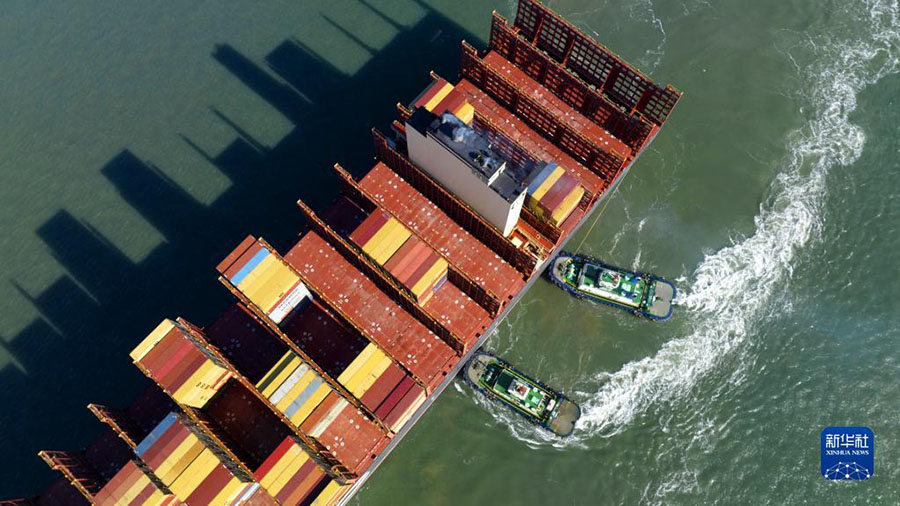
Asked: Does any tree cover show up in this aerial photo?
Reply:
No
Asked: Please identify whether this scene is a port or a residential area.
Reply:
port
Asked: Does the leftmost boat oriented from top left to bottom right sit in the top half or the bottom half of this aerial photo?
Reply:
bottom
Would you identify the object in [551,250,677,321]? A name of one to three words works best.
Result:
boat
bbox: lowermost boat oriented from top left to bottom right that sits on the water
[465,352,584,443]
